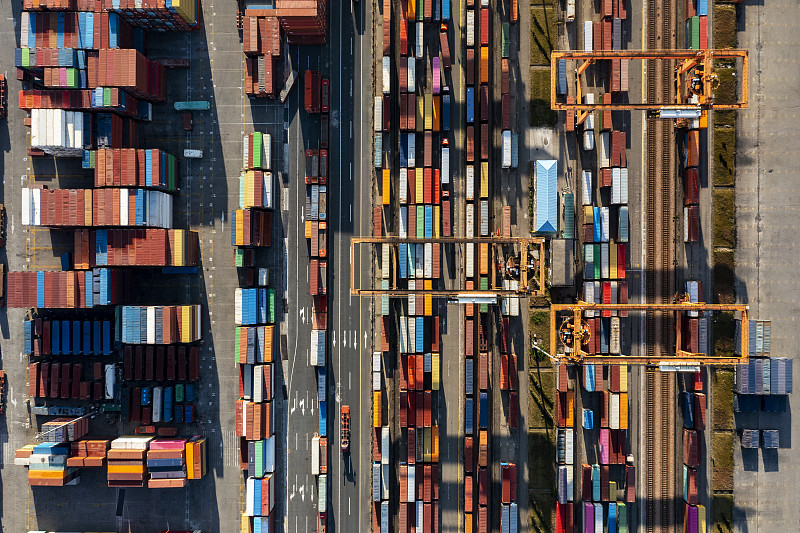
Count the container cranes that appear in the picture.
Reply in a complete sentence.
My tally gives 3 container cranes in this view.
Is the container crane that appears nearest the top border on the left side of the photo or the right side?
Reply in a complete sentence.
It is on the right.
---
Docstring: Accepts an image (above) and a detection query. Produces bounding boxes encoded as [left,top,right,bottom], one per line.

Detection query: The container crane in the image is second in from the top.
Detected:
[349,234,547,309]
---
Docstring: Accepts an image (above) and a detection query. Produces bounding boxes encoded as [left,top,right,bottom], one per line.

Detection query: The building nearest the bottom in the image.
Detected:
[548,238,574,286]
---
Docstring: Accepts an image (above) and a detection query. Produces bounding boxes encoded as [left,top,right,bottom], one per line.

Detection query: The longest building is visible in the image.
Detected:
[534,159,558,232]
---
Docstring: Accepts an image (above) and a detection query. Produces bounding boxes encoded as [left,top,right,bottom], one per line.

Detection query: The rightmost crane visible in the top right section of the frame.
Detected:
[549,48,752,132]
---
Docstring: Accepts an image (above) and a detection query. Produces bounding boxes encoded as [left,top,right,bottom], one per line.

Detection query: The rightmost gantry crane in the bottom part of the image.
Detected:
[548,295,751,375]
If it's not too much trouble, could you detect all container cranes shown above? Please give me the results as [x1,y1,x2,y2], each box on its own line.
[549,48,752,132]
[349,234,547,309]
[548,295,751,375]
